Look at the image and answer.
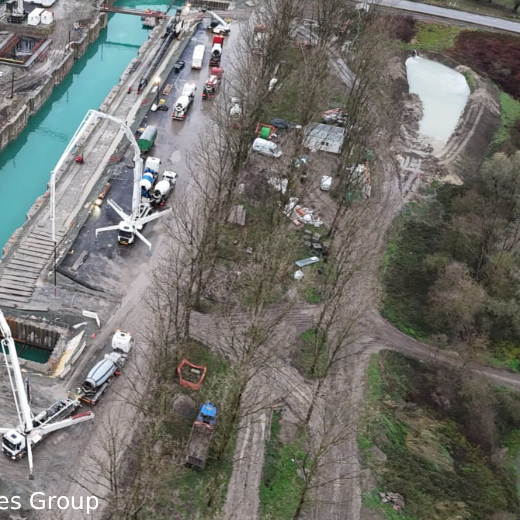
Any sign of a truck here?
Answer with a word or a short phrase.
Yes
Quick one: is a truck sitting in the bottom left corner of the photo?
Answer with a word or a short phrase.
Yes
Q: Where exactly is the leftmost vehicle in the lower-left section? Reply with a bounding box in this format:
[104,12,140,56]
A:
[0,315,96,484]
